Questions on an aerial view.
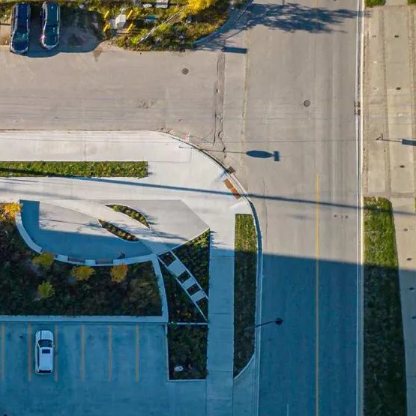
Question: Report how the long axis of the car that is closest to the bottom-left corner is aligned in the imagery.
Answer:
vertically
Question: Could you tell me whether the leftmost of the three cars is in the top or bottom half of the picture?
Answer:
top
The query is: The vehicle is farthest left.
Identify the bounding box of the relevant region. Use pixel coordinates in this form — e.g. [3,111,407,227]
[8,2,32,55]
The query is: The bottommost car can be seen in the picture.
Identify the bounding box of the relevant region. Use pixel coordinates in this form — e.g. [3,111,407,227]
[33,329,55,375]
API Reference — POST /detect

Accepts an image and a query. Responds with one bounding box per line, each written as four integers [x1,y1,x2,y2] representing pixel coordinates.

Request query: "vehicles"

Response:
[39,1,62,50]
[33,329,55,375]
[8,2,32,55]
